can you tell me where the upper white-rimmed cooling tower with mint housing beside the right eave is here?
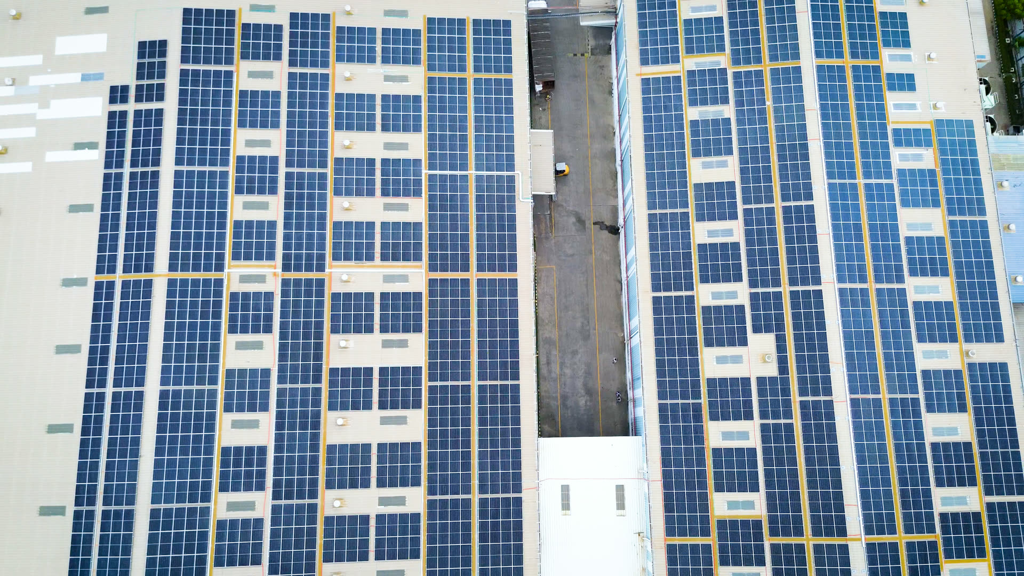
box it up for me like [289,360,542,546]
[980,77,1000,113]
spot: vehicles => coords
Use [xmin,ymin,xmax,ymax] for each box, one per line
[556,164,570,178]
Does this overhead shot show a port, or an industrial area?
industrial area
